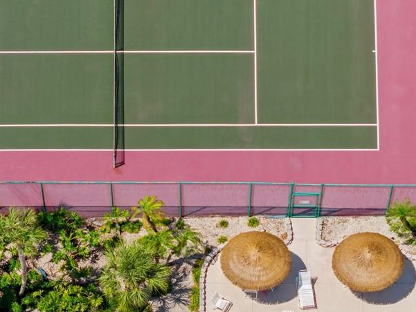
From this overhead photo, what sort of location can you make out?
sports ground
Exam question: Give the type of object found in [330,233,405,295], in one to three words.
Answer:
umbrella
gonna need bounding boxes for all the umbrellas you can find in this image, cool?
[219,230,294,290]
[330,233,405,295]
